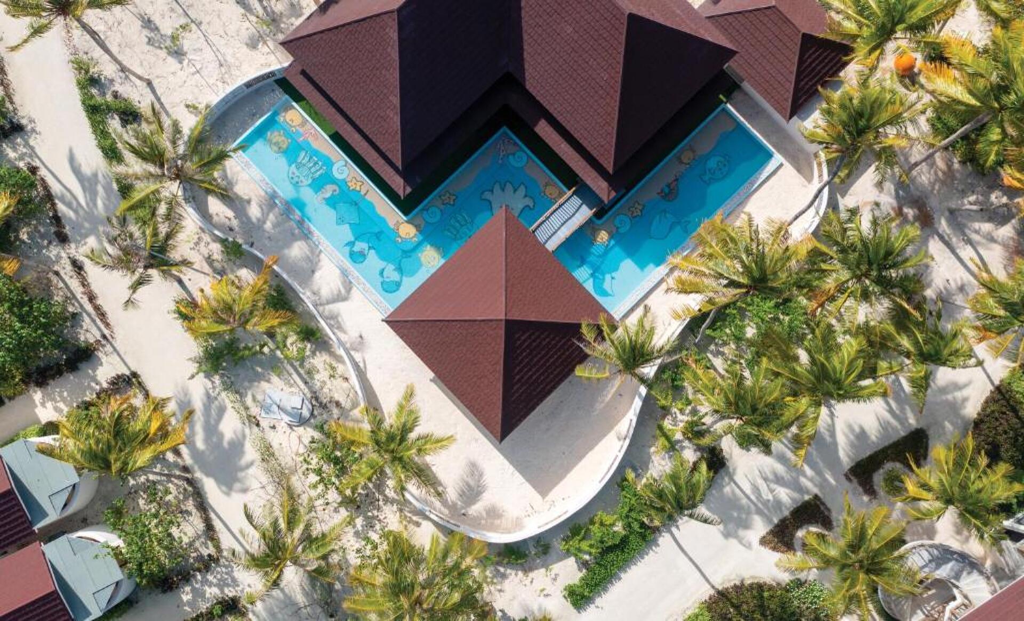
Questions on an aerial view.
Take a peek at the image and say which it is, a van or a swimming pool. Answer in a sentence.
The image shows a swimming pool.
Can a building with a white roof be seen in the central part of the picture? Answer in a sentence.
No, the scene shows no building with a white roof in the central part of the picture.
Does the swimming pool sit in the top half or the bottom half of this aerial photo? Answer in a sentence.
You can find the swimming pool in the top half.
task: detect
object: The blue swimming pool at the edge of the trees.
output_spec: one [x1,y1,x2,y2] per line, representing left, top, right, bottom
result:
[234,98,782,323]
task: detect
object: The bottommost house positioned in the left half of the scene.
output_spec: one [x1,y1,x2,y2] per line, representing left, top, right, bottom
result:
[0,521,149,621]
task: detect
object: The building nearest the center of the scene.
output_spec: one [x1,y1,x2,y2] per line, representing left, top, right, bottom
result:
[384,206,616,440]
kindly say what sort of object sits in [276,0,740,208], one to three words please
building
